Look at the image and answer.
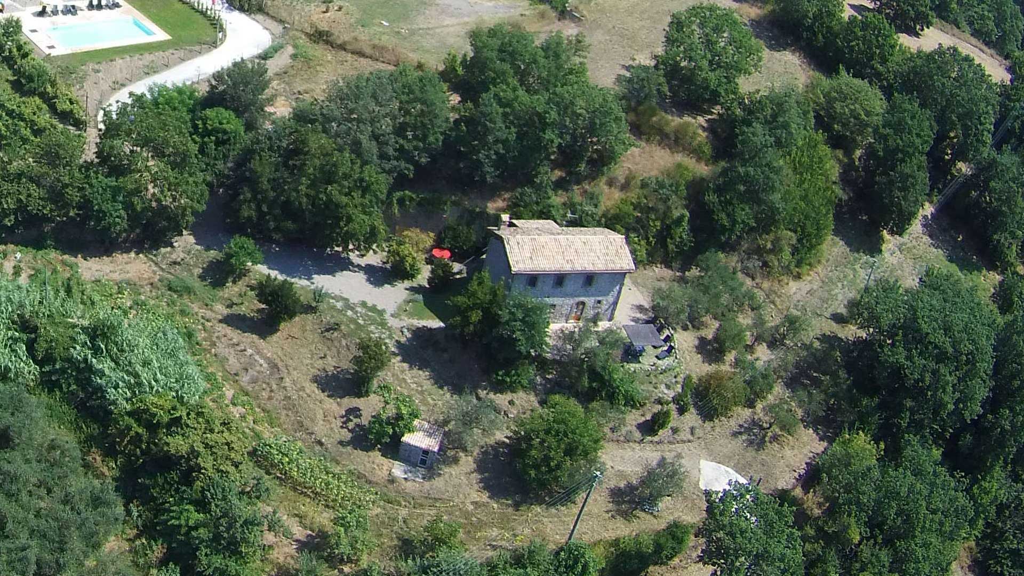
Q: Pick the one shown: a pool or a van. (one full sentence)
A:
The image shows a pool.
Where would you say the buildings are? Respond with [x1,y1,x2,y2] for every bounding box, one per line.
[488,211,634,325]
[402,416,447,470]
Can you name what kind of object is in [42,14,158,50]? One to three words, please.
swimming pool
